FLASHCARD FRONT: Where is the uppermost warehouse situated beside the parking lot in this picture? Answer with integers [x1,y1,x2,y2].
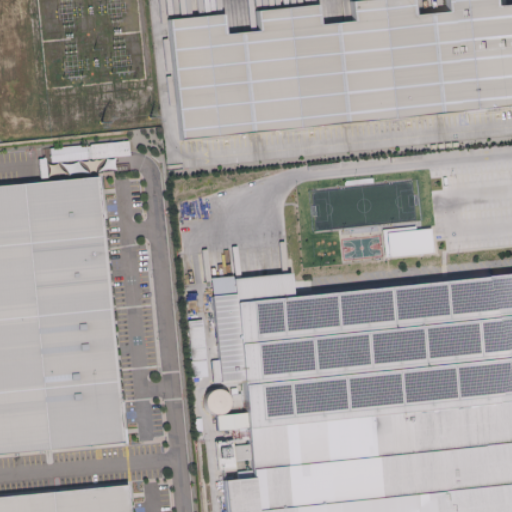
[169,0,512,138]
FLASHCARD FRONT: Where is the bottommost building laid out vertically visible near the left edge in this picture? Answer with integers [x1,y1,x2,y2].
[0,176,126,454]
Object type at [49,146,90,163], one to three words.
building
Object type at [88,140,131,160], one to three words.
building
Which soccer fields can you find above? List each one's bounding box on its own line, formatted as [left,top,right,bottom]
[314,180,420,230]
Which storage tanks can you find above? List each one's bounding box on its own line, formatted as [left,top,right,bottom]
[202,387,233,416]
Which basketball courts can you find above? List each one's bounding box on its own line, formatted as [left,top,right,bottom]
[342,236,382,260]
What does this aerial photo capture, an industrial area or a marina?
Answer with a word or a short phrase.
industrial area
